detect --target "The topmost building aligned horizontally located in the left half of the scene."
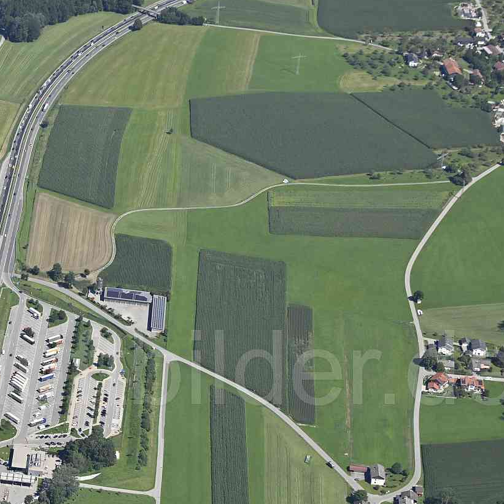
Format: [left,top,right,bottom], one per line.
[104,287,152,307]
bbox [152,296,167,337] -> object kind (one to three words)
building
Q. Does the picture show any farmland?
Yes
